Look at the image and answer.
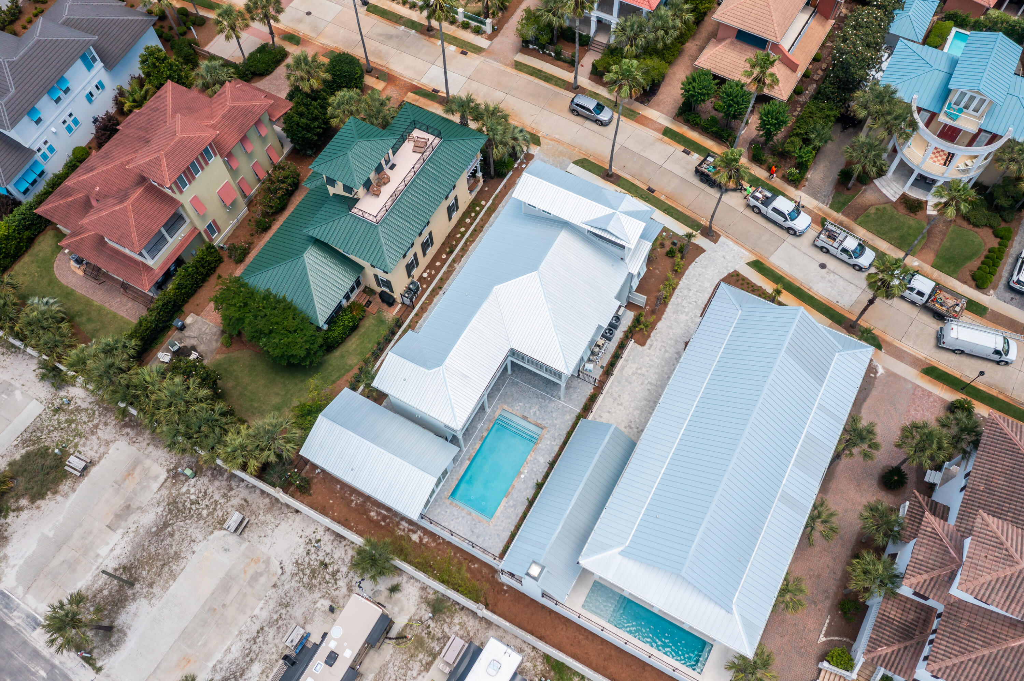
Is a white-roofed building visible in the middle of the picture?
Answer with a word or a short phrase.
Yes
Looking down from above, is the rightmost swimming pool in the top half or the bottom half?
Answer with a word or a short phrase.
top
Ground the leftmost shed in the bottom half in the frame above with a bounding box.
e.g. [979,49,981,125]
[298,387,462,528]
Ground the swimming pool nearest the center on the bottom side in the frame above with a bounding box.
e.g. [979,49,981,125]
[443,404,548,527]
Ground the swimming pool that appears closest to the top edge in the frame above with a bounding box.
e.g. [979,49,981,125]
[943,30,968,56]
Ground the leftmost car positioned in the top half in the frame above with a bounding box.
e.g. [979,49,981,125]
[568,91,616,126]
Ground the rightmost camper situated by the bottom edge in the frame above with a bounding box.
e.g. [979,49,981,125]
[446,637,523,681]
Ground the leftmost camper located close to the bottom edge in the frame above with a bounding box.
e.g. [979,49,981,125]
[283,594,390,681]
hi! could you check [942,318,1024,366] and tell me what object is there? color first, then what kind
white van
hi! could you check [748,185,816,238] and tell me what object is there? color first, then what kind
white truck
